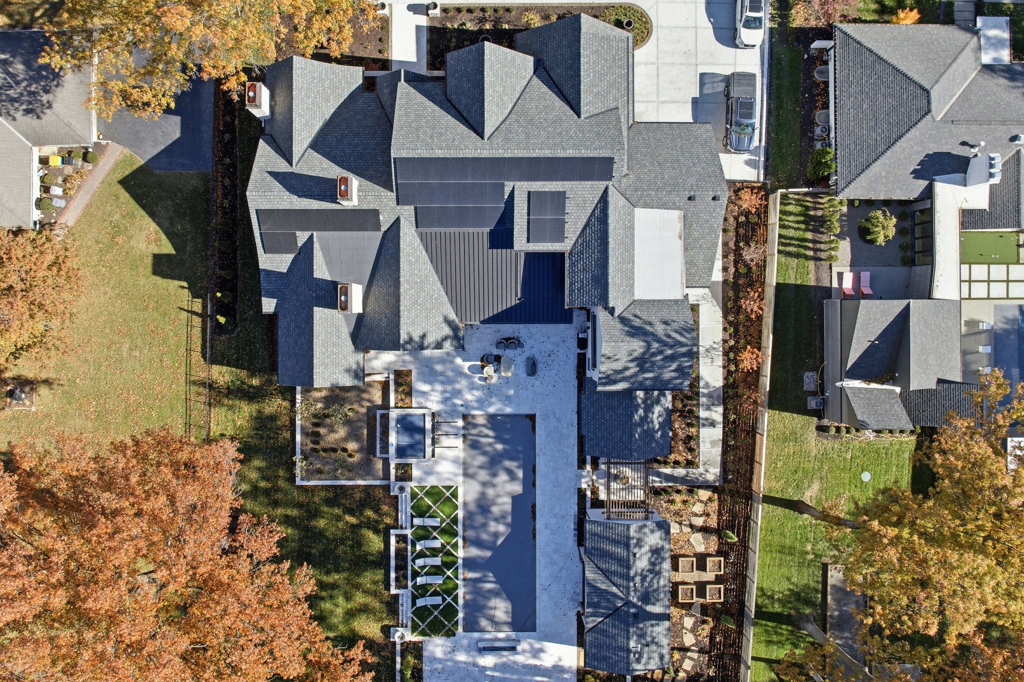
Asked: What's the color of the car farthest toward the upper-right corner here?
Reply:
white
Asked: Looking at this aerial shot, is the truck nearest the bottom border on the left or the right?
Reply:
right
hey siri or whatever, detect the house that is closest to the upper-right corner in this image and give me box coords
[806,17,1024,302]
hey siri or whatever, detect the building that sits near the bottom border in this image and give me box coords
[582,510,672,676]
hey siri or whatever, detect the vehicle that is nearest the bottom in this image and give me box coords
[726,70,762,155]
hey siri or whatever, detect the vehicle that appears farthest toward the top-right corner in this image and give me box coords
[736,0,771,50]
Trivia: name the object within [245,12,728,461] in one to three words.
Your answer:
house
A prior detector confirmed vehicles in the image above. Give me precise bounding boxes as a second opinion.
[736,0,771,50]
[726,70,762,155]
